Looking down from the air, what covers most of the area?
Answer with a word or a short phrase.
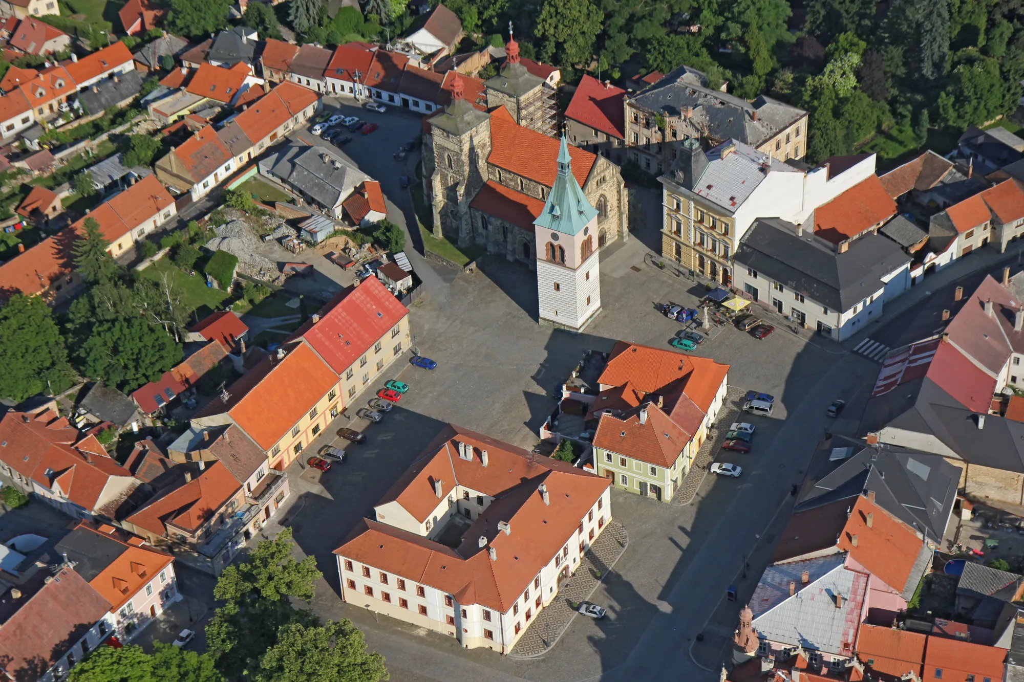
buildings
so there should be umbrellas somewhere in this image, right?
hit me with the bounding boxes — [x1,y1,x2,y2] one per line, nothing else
[719,296,753,318]
[703,288,733,309]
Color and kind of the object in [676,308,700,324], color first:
blue car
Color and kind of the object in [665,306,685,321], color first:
gray car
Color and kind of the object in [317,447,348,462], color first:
gray car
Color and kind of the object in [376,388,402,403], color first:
red car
